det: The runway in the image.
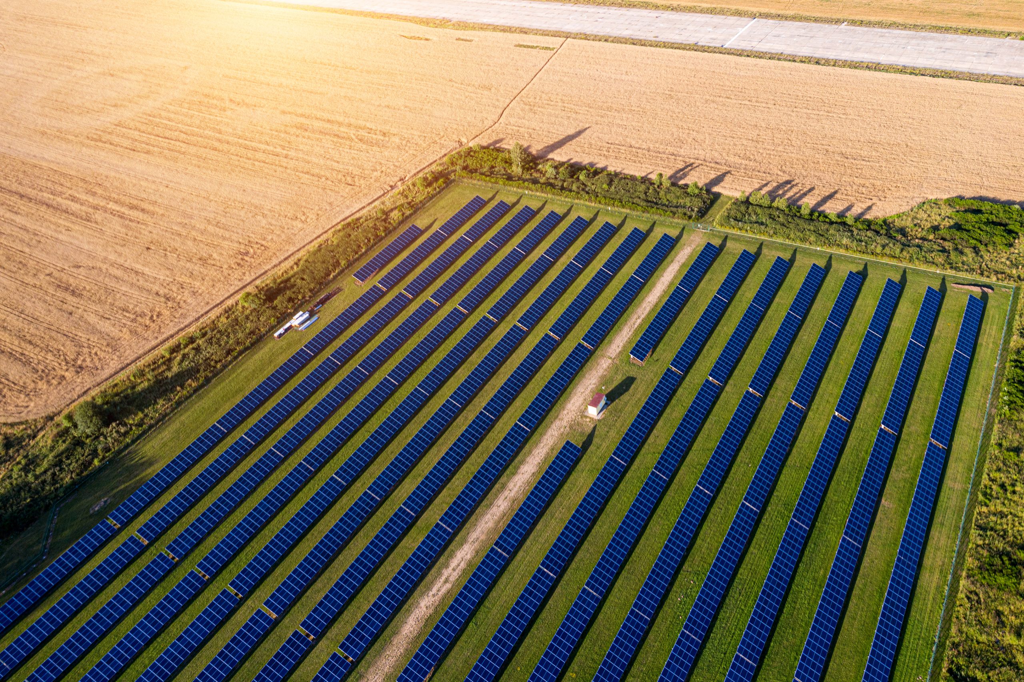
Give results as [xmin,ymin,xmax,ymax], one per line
[245,0,1024,77]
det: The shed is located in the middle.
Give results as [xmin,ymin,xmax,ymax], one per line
[587,392,609,416]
